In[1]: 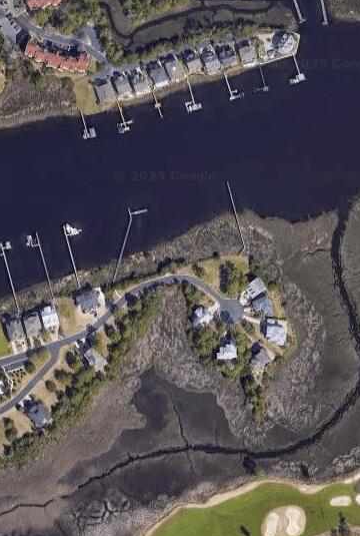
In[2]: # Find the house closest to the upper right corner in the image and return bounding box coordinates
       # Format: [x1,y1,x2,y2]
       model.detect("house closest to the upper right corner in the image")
[271,30,297,58]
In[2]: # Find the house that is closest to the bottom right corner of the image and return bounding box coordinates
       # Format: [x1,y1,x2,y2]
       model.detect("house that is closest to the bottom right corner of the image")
[246,345,274,371]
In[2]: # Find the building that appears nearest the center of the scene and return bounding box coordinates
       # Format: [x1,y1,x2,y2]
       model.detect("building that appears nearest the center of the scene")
[190,304,216,328]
